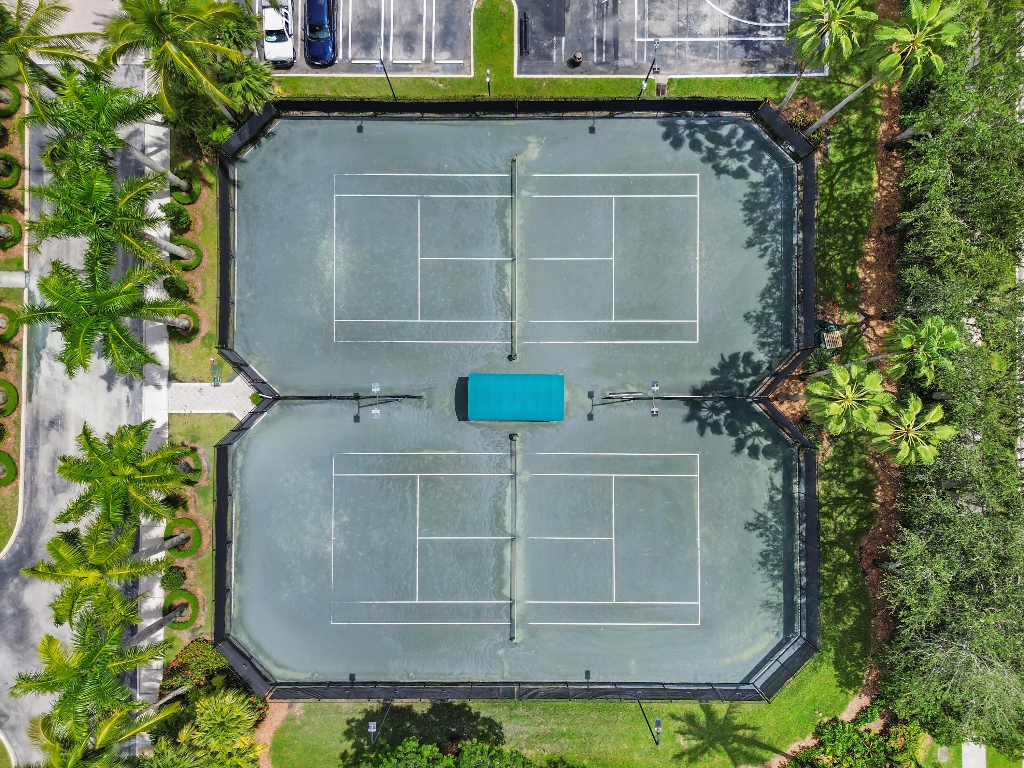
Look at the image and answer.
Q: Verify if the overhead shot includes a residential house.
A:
No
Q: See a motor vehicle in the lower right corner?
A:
No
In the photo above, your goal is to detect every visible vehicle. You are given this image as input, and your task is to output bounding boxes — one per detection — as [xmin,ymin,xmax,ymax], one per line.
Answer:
[260,0,300,68]
[301,0,340,66]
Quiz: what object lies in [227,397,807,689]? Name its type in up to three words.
tennis court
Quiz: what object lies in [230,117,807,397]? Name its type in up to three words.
tennis court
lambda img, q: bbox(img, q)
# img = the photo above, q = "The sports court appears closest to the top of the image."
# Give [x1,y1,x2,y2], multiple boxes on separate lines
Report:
[602,0,791,41]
